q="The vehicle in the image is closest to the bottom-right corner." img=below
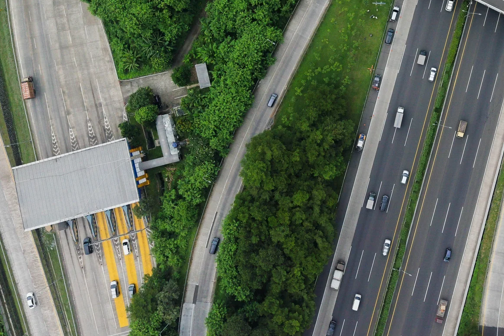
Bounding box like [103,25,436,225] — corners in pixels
[434,298,449,324]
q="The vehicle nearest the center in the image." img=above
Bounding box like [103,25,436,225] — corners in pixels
[266,92,279,108]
